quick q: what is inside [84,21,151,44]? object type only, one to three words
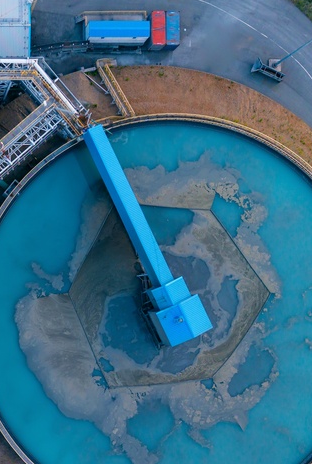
shed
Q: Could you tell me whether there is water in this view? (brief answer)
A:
Yes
